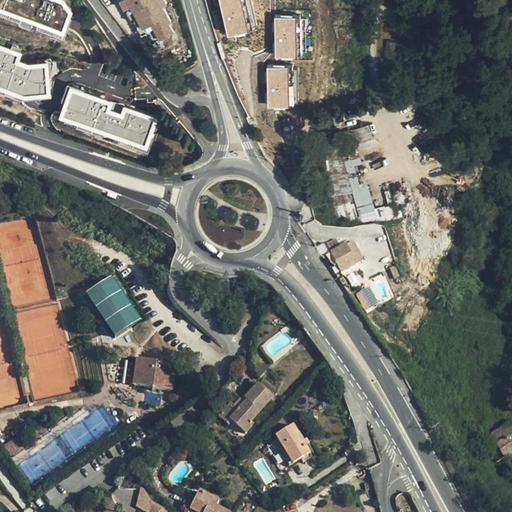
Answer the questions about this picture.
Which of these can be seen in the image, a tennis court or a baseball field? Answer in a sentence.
Of the two, only a tennis court appears.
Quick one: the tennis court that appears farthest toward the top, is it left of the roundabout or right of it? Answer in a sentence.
To the left of the roundabout is where the tennis court that appears farthest toward the top appears.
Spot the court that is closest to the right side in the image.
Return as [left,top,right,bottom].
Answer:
[58,404,119,453]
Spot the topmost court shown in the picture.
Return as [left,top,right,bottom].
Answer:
[0,219,56,308]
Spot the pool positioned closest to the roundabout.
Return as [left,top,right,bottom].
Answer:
[262,326,298,362]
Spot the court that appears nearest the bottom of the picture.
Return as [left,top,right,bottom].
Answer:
[19,434,73,482]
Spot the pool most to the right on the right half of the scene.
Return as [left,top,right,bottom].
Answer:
[372,274,394,304]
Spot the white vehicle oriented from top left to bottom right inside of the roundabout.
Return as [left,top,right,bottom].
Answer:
[203,241,224,258]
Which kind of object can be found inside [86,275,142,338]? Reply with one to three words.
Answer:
building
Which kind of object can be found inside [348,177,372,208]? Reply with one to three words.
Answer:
shed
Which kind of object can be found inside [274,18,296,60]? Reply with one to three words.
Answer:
house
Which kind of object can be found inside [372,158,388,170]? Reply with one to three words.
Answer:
vehicle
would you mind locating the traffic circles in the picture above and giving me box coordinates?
[179,157,300,278]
